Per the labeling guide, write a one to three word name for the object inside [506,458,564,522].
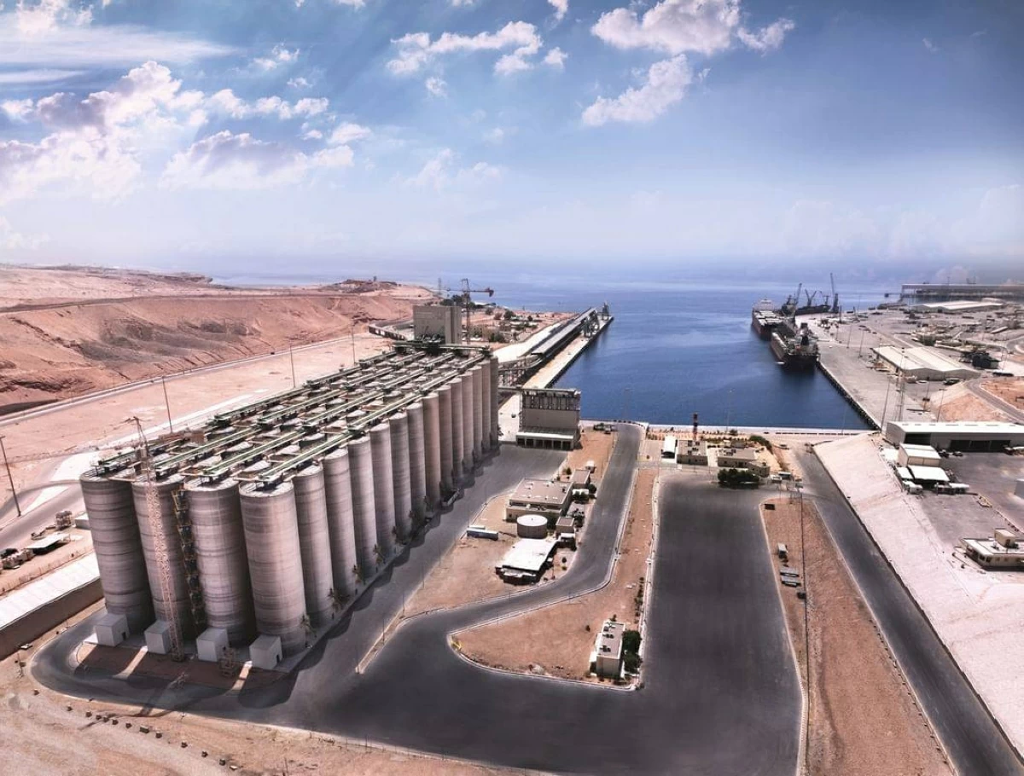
building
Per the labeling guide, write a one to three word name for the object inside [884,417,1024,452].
building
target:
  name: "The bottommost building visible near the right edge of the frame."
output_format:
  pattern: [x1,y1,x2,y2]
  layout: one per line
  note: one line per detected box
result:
[964,528,1024,570]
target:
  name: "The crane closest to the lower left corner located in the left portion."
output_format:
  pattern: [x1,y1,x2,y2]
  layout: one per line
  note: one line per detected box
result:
[102,417,189,664]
